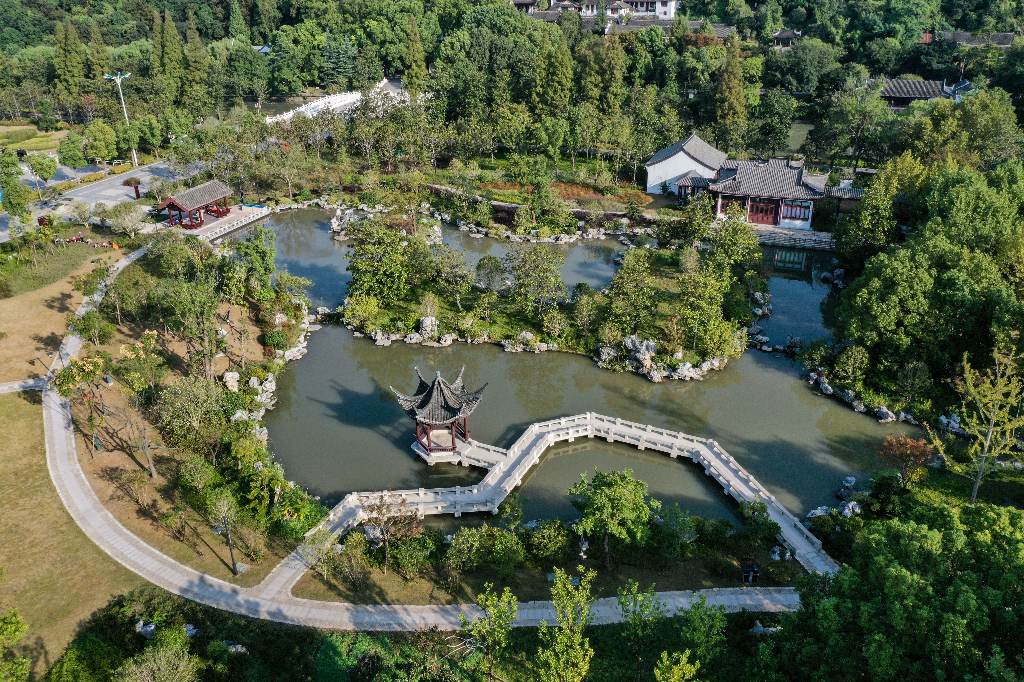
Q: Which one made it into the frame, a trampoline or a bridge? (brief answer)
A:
bridge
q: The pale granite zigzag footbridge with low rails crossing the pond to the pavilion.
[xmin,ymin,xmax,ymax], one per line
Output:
[306,412,840,568]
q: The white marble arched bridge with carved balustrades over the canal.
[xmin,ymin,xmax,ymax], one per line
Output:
[263,84,416,124]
